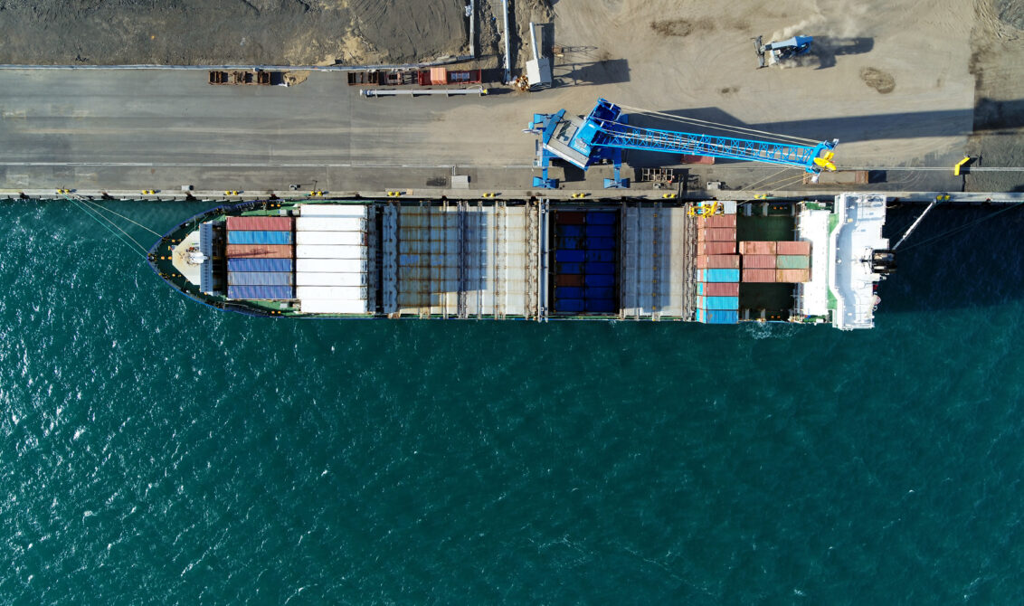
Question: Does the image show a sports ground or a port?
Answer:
port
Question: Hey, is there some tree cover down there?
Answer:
No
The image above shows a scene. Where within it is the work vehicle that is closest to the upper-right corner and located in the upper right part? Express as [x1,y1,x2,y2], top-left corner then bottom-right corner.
[758,29,817,68]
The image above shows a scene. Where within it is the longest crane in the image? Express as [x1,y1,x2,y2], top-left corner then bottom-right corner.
[530,93,844,212]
